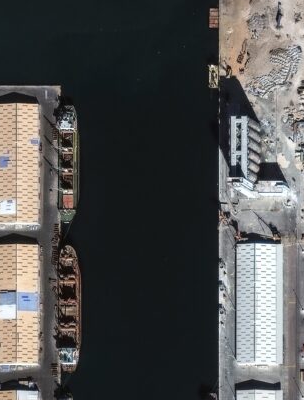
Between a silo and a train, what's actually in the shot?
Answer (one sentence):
Of the two, only a silo appears.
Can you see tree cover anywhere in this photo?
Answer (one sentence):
No, no tree cover is visible.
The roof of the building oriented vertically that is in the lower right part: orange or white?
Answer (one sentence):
The roof of the building oriented vertically that is in the lower right part looks white in the image.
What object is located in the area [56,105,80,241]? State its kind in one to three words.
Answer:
ship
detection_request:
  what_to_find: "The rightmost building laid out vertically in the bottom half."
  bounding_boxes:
[236,242,285,366]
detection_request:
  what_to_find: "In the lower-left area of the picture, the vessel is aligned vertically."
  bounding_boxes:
[56,245,82,373]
